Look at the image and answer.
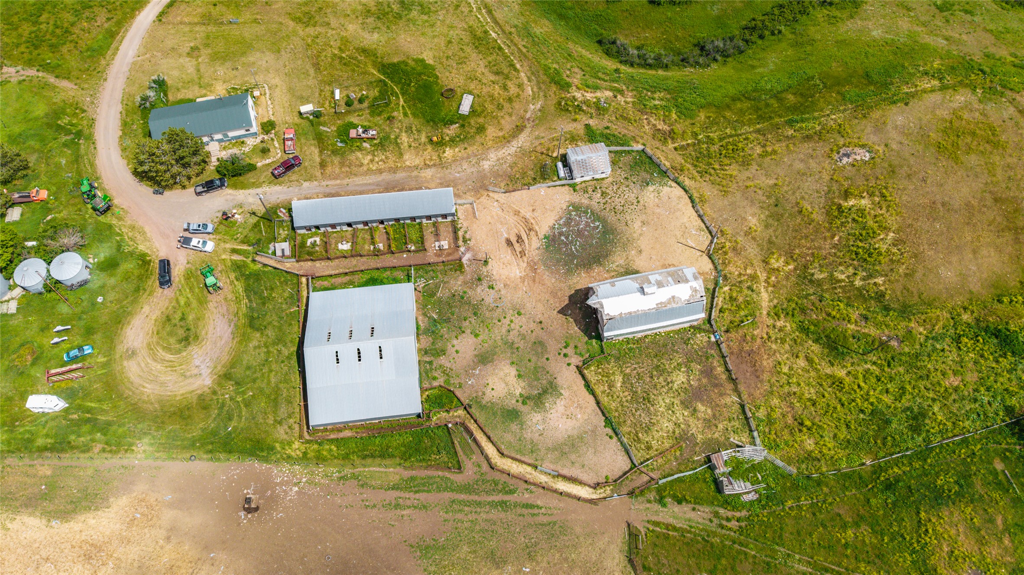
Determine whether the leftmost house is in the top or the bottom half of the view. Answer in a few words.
top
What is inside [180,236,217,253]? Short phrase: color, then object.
white vehicle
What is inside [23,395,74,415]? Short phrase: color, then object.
white trailer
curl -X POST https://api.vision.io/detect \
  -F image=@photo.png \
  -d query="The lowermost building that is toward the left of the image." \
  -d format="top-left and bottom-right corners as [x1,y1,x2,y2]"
[305,281,426,431]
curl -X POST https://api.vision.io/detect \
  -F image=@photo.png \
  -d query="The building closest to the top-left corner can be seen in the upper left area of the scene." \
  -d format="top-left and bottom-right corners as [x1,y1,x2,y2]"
[148,91,257,149]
